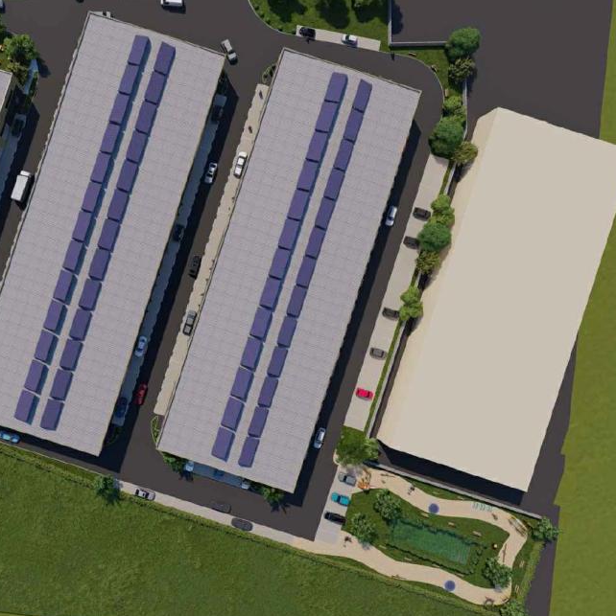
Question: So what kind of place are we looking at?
industrial area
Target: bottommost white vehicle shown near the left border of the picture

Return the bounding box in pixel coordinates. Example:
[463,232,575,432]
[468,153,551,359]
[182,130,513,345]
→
[12,173,32,205]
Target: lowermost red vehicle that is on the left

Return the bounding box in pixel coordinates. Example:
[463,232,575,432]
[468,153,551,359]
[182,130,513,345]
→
[135,382,149,405]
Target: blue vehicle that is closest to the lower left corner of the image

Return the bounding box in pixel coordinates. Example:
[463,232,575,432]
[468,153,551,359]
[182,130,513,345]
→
[0,430,20,443]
